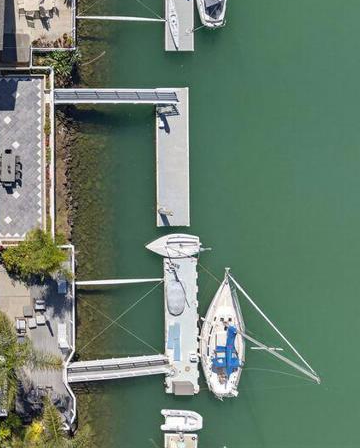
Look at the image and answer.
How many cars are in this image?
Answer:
0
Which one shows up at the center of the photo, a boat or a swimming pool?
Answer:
boat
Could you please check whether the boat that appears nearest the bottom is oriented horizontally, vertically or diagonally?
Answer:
horizontally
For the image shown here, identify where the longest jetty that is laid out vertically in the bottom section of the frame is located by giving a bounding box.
[164,258,198,394]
